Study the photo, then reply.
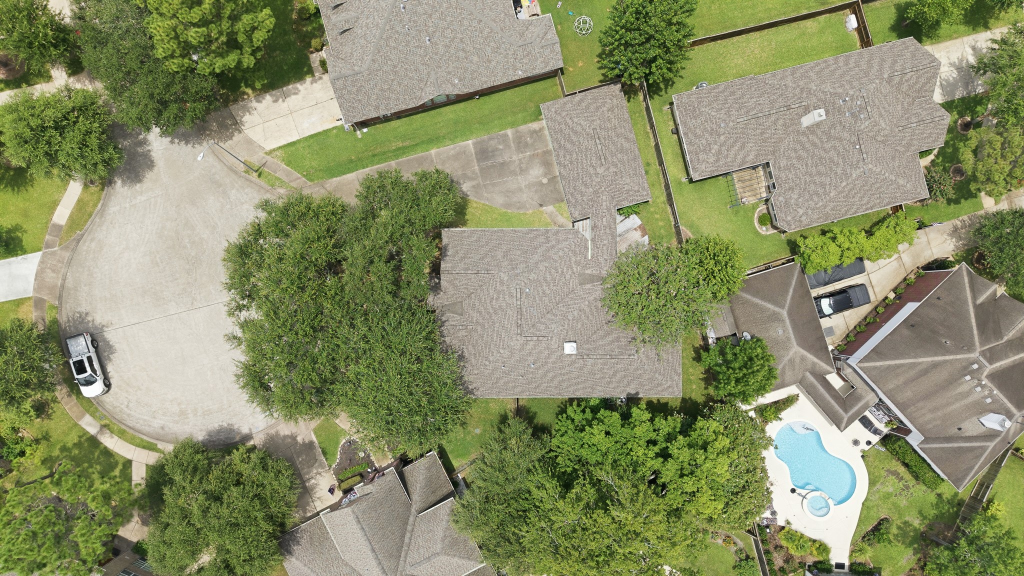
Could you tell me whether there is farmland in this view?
No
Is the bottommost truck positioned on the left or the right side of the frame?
left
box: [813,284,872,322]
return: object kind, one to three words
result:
truck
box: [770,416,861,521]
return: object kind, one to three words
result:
swimming pool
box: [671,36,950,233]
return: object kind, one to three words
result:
house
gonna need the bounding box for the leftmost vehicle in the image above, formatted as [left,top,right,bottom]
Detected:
[68,328,111,400]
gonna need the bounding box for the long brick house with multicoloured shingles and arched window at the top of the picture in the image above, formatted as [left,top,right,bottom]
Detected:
[317,0,564,129]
